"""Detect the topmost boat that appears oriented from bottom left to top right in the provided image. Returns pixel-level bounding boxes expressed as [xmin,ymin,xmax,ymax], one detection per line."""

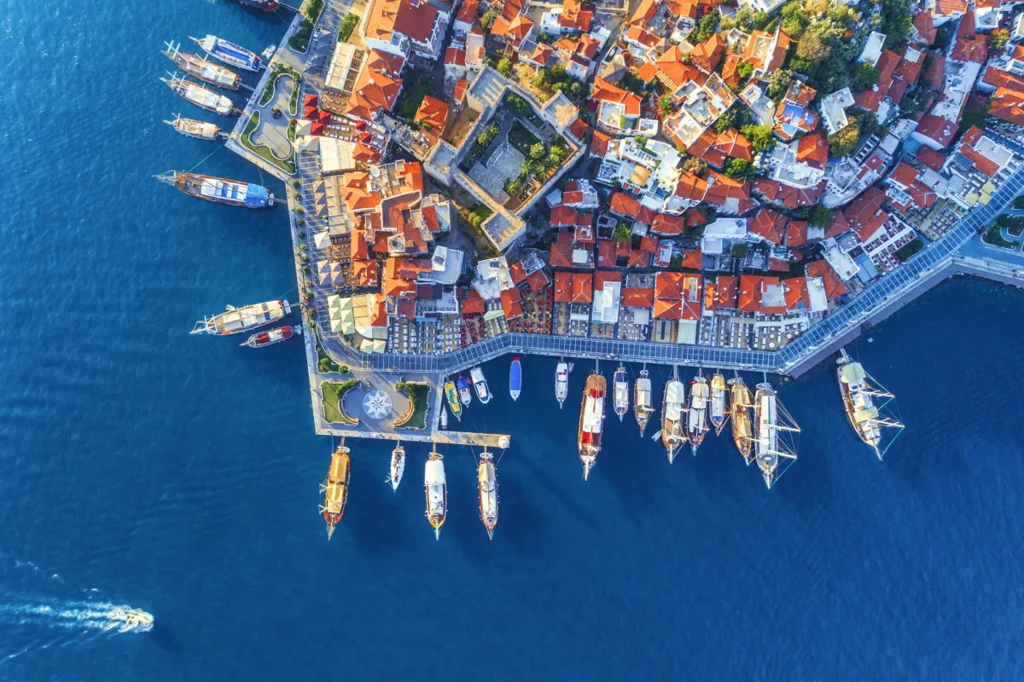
[260,43,276,58]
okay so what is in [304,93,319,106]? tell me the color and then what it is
red umbrella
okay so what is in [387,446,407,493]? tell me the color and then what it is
white boat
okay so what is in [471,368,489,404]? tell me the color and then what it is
white boat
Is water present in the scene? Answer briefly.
Yes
